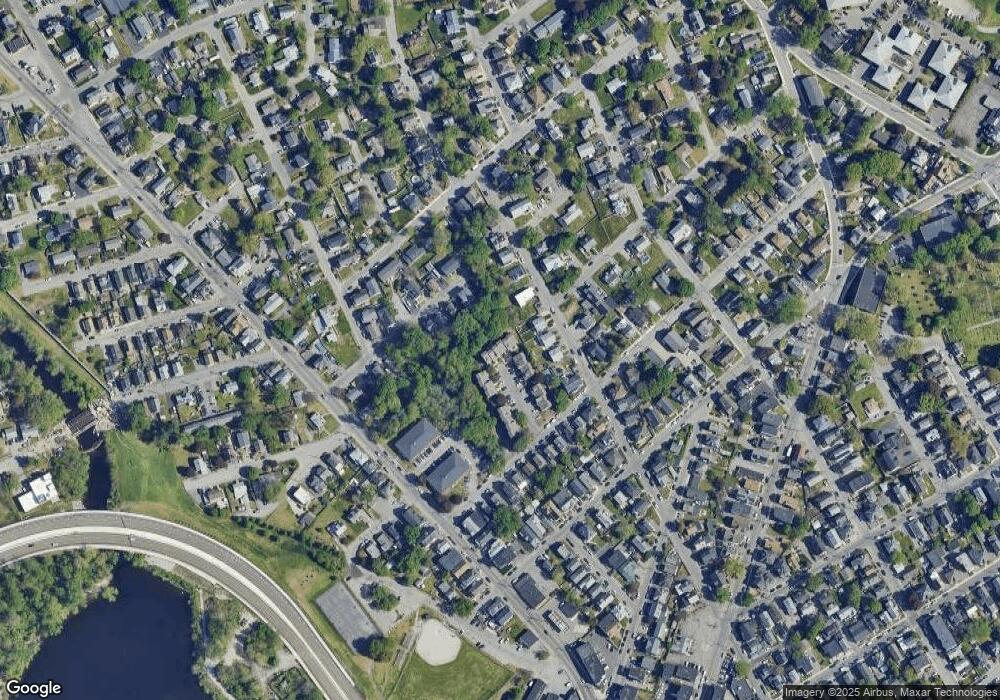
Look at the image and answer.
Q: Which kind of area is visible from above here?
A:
residential area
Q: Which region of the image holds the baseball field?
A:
bottom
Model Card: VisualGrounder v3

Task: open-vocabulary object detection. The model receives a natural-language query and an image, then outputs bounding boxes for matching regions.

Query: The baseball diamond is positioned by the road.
[396,614,513,700]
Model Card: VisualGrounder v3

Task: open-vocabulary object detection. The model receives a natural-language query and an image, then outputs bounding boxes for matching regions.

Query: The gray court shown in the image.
[320,587,378,649]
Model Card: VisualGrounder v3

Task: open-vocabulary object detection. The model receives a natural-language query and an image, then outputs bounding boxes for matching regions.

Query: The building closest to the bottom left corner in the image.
[15,469,59,508]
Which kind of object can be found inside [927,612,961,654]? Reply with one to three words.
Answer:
building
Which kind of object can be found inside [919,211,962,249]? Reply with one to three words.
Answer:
building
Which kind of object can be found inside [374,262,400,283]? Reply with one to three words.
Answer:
house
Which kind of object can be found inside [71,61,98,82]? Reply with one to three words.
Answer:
house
